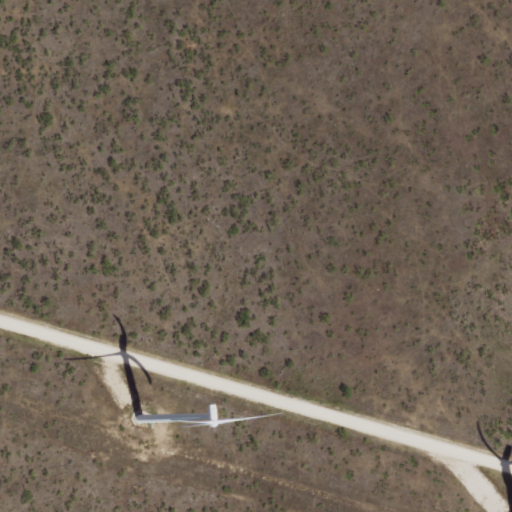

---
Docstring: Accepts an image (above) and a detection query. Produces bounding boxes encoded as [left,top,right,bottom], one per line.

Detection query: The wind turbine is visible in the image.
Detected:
[131,403,264,428]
